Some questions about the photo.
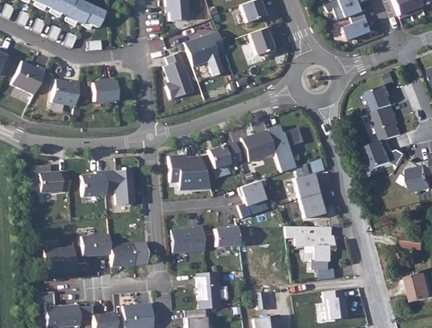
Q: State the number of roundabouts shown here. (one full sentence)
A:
The photo contains exactly 1 roundabout.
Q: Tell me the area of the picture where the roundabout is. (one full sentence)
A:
Look in the top right portion of the view to spot the roundabout.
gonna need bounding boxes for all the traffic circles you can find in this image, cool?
[286,48,346,112]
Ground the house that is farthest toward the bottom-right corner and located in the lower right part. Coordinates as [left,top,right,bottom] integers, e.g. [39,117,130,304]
[402,272,432,302]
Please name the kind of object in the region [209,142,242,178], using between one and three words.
house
